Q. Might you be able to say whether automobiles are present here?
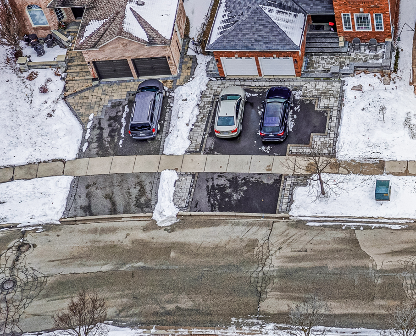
Yes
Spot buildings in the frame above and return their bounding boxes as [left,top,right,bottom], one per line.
[9,0,190,81]
[203,0,398,78]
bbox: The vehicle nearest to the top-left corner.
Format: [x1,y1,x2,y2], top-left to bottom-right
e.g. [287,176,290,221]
[128,86,167,139]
